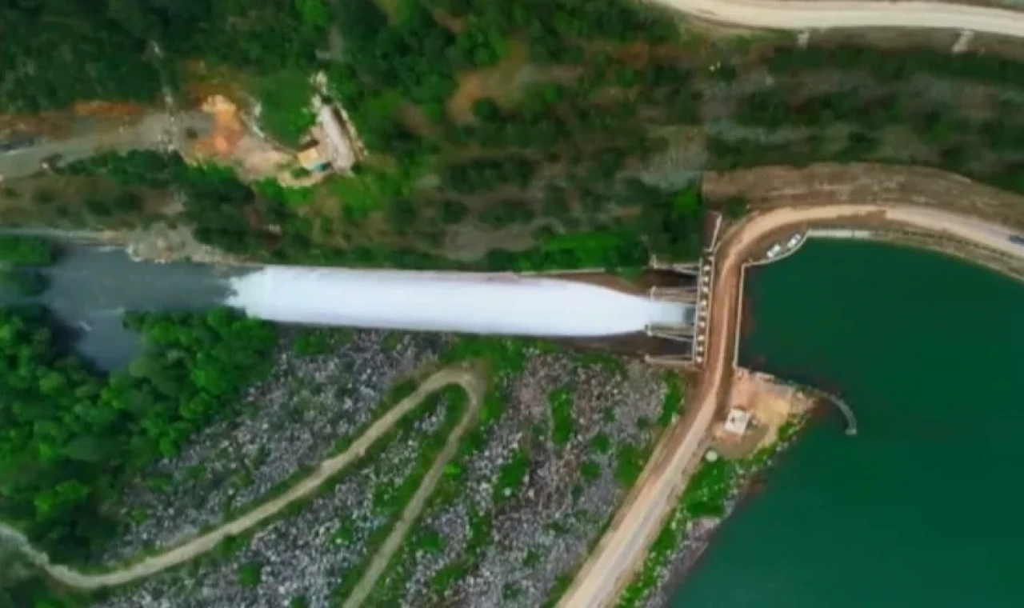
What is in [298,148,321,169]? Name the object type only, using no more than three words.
building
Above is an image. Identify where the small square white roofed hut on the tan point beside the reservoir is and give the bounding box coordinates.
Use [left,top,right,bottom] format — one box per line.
[723,408,751,436]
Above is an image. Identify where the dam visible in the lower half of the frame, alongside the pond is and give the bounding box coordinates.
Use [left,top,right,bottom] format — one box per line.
[86,213,871,608]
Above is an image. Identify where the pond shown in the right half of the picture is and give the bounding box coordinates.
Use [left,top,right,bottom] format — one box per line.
[671,238,1024,608]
